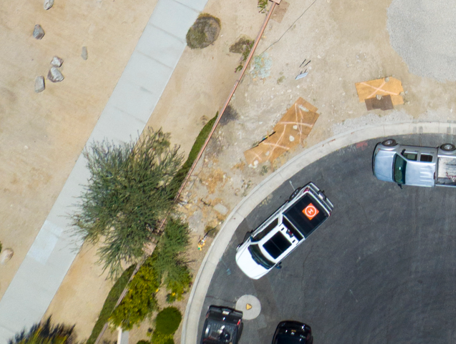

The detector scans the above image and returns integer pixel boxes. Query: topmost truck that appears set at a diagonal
[243,179,337,272]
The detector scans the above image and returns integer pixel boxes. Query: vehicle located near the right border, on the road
[370,138,456,191]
